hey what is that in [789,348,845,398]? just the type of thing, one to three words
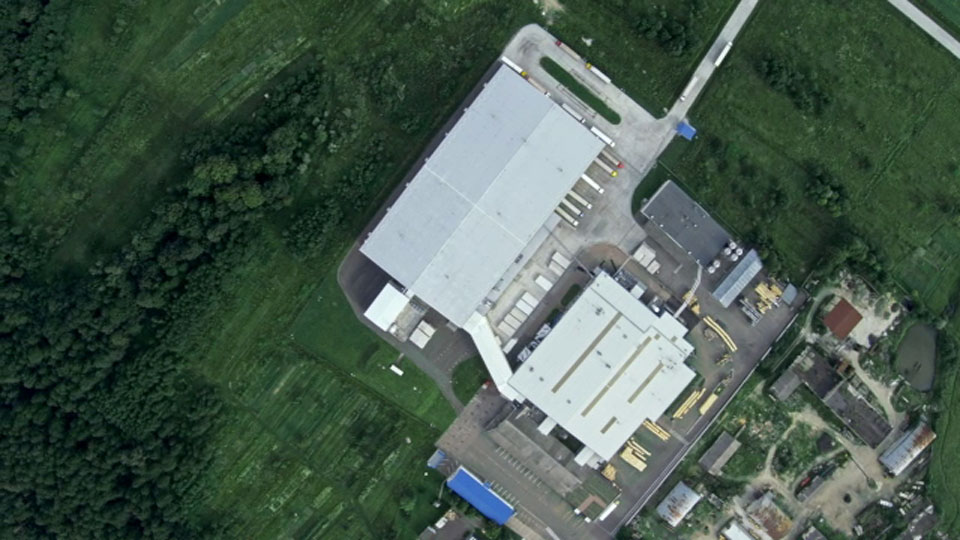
barn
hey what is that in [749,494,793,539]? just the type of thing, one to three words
shed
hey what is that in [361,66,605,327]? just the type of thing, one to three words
warehouse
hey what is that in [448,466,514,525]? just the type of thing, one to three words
building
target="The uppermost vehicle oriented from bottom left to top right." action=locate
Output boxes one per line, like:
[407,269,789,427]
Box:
[713,41,734,67]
